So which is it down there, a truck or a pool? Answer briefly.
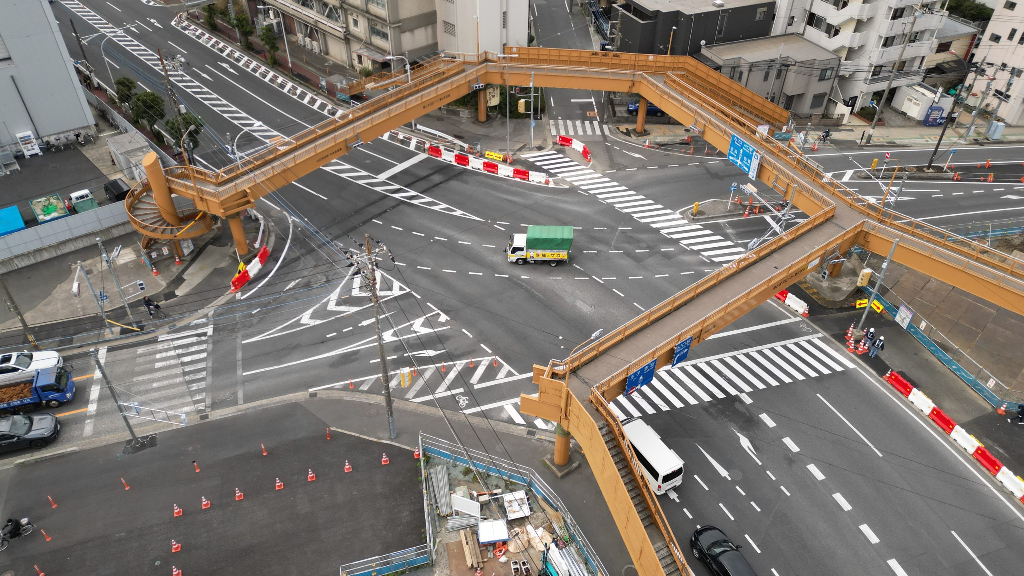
truck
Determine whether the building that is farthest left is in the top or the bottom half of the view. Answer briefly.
top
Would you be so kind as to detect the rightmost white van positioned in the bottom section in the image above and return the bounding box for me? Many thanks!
[618,412,688,492]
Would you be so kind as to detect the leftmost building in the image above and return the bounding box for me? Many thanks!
[0,0,97,157]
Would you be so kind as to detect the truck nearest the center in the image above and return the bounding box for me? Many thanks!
[508,227,575,265]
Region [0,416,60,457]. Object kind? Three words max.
car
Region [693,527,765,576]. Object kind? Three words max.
car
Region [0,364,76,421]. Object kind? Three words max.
truck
